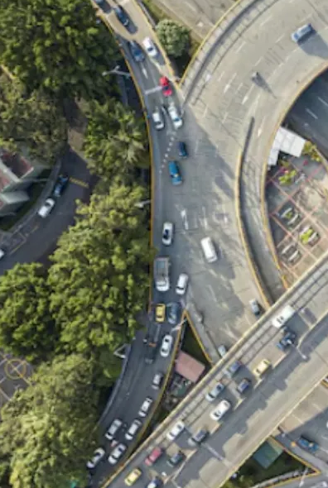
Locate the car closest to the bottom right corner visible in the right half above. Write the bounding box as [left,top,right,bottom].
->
[295,437,317,452]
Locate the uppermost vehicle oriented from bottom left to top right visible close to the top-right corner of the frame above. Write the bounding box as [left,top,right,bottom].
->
[293,22,313,39]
